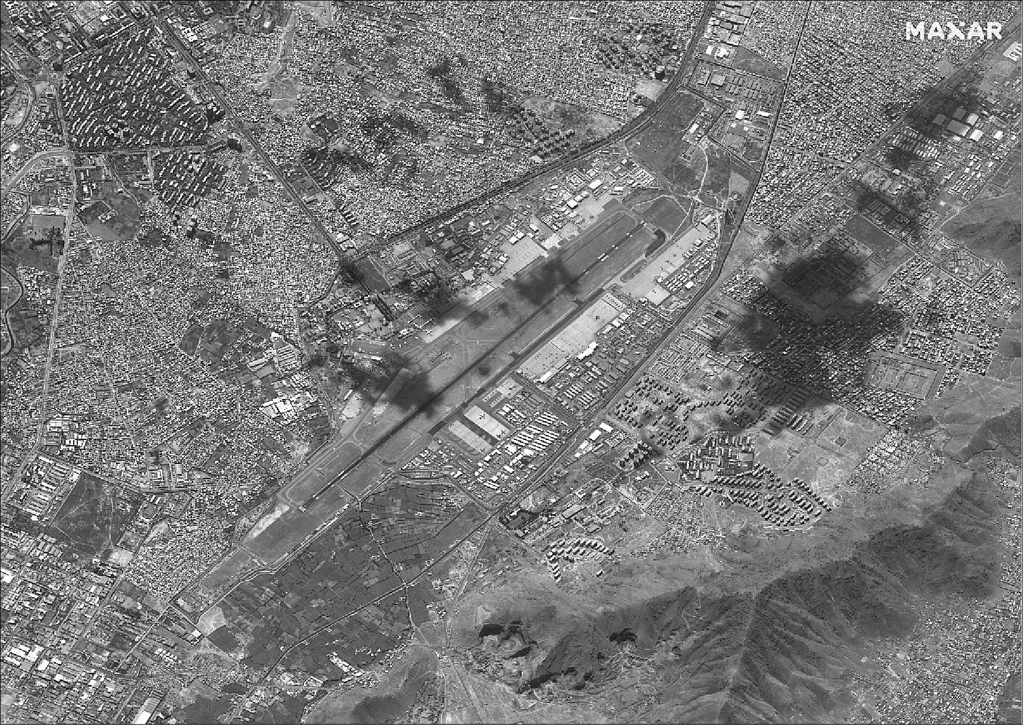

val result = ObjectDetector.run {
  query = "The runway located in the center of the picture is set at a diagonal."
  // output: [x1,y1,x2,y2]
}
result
[298,219,646,513]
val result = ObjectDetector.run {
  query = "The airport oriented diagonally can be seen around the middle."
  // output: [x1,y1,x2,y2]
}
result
[170,193,721,621]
